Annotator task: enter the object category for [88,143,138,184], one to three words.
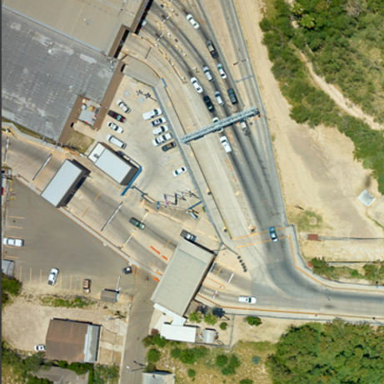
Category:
building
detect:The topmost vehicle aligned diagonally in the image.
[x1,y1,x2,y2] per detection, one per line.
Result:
[185,12,199,29]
